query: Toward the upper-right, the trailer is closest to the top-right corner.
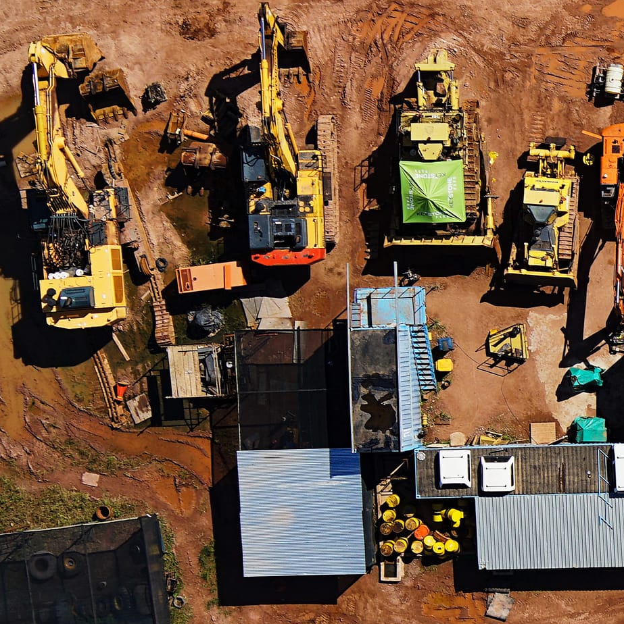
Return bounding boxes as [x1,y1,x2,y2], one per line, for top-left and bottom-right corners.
[593,57,624,99]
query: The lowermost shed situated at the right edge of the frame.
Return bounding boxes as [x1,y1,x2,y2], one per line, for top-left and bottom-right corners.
[475,494,624,569]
